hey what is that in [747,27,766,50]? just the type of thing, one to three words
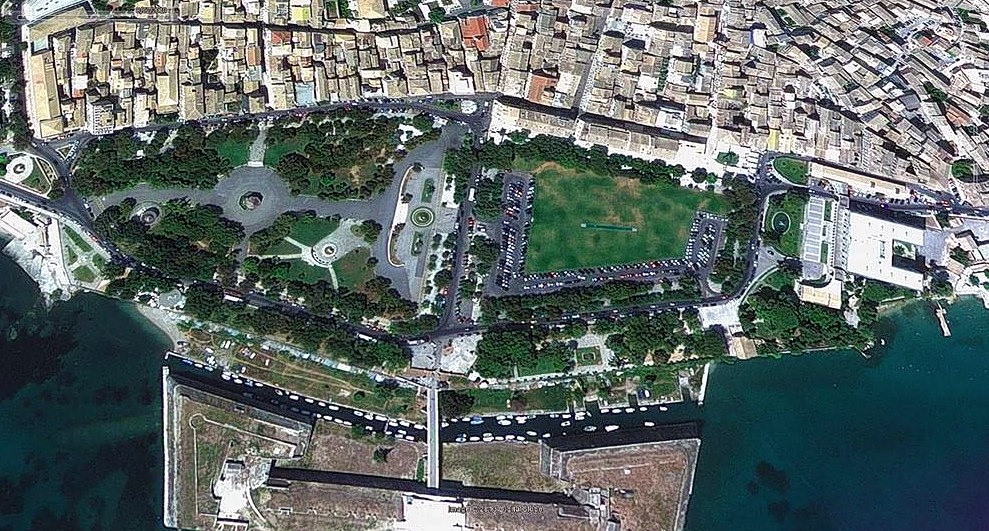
house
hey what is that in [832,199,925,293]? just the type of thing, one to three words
building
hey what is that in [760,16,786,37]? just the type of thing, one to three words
house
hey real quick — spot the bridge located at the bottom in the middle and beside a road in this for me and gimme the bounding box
[425,375,440,489]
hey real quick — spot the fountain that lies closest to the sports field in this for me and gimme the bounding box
[411,206,433,228]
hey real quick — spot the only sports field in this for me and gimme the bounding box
[525,157,730,273]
